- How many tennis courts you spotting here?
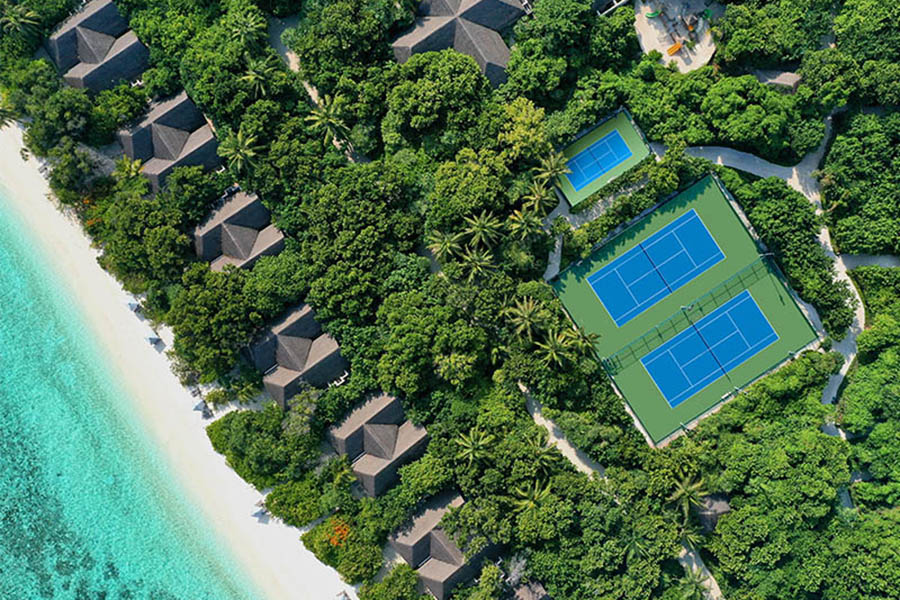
3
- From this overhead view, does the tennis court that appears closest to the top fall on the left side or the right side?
right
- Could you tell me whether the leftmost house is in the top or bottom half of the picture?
top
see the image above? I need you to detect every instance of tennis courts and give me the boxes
[603,255,822,445]
[553,177,762,358]
[545,109,648,206]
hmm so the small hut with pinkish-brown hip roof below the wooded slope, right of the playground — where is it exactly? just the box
[766,71,802,94]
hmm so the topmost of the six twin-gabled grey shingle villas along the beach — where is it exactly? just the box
[42,0,159,105]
